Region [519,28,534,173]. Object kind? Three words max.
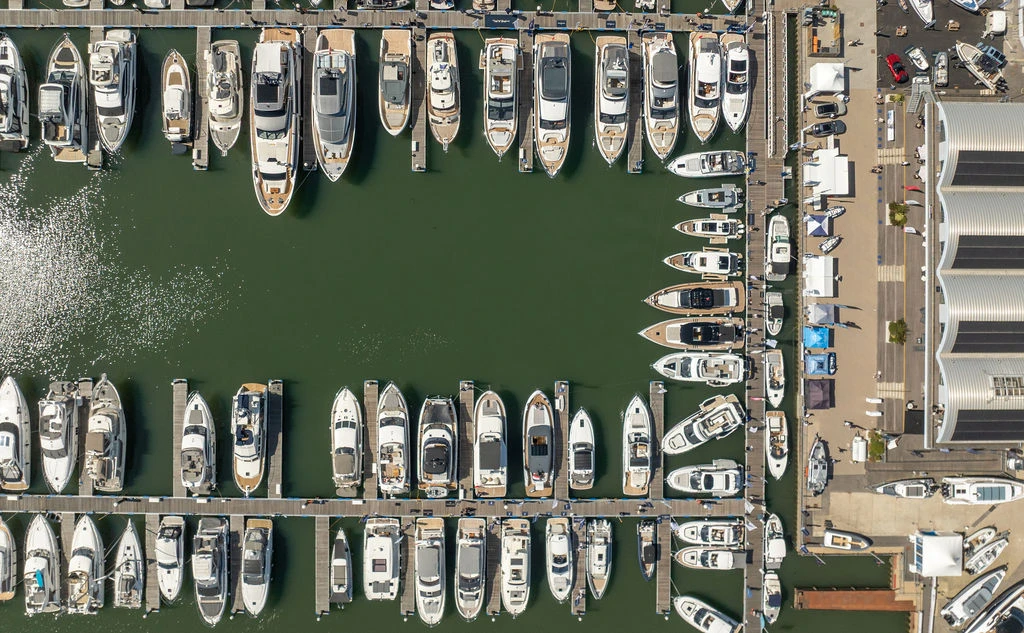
pier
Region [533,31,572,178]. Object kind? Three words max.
boat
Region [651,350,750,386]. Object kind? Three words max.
boat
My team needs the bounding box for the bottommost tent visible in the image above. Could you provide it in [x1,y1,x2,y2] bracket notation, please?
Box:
[904,527,964,576]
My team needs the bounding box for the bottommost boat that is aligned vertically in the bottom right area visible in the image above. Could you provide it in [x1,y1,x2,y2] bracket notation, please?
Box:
[763,571,781,623]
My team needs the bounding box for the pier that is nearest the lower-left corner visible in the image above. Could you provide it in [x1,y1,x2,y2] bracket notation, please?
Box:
[61,515,75,601]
